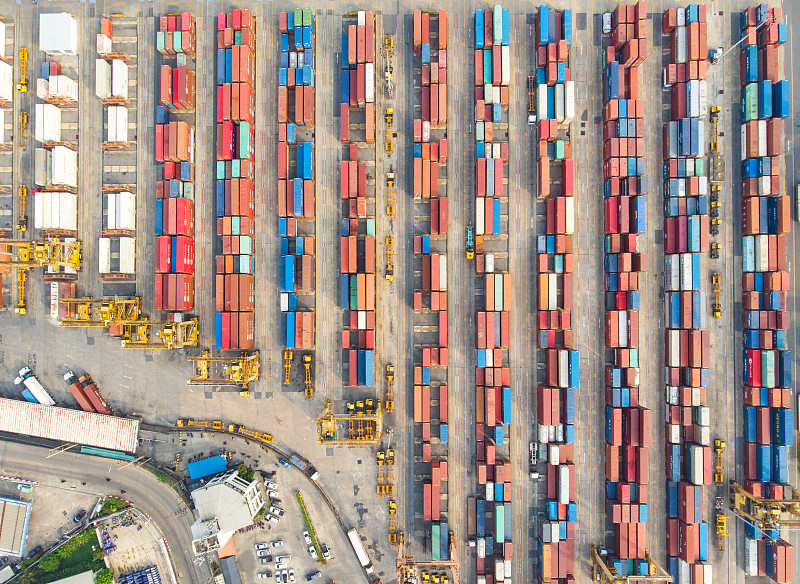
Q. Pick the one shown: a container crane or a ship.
container crane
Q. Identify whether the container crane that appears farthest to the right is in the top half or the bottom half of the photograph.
bottom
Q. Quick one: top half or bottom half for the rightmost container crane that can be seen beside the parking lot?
bottom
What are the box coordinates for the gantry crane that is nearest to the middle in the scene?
[315,399,384,447]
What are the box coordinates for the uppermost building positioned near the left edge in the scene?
[0,393,148,454]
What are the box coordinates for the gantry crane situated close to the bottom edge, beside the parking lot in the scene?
[393,530,459,584]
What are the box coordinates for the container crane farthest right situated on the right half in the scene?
[727,472,800,529]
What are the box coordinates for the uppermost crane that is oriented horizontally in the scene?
[0,237,83,276]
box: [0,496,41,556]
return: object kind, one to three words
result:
building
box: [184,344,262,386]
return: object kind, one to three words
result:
container crane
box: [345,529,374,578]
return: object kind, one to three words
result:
truck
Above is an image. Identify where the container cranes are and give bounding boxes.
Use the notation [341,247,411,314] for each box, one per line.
[588,543,673,584]
[393,530,459,584]
[0,237,83,276]
[184,344,262,386]
[315,399,384,447]
[120,312,202,351]
[727,472,800,529]
[57,291,142,329]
